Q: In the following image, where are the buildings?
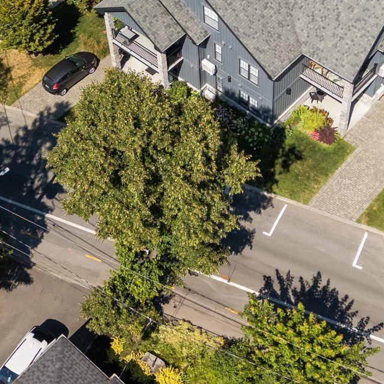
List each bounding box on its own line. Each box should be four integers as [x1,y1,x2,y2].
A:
[94,0,384,136]
[14,334,129,384]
